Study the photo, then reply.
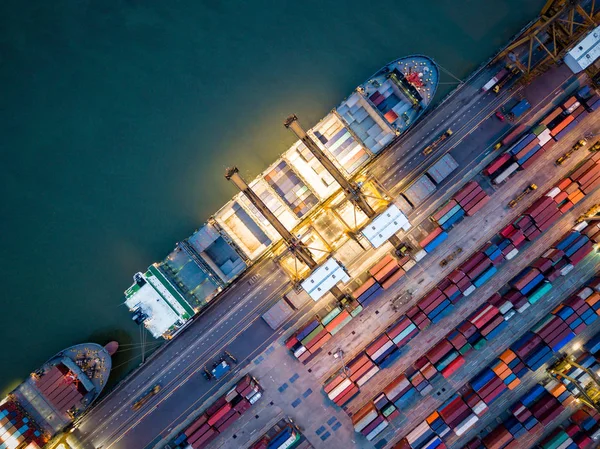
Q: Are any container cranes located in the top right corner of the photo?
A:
Yes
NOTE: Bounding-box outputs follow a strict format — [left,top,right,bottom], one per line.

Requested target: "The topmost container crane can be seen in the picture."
[490,0,600,89]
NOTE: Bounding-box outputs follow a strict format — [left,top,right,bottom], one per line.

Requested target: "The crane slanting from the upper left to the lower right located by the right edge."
[547,353,600,414]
